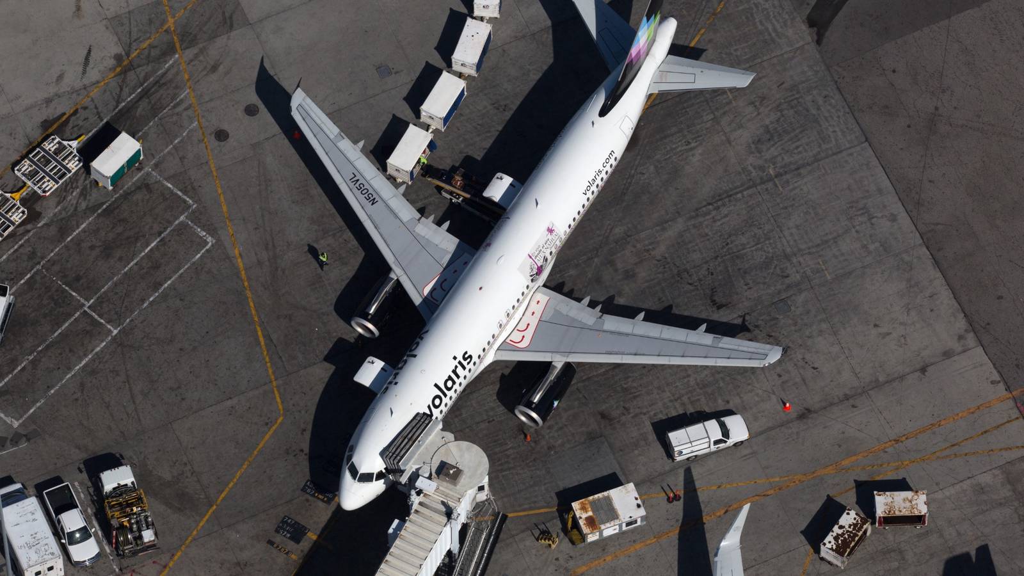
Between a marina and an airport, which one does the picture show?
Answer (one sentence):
It's an airport.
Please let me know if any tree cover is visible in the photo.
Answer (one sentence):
No, the picture contains no tree cover.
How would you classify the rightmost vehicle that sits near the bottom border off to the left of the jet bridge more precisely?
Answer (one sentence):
What you see as the rightmost vehicle that sits near the bottom border off to the left of the jet bridge is a truck.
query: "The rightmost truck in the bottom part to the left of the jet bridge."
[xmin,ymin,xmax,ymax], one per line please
[92,461,159,568]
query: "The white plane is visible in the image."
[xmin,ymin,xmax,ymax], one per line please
[288,0,790,510]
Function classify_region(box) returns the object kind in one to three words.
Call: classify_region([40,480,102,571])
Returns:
truck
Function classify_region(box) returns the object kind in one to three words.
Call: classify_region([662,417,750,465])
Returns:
truck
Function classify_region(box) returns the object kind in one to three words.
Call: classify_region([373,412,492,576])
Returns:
jet bridge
